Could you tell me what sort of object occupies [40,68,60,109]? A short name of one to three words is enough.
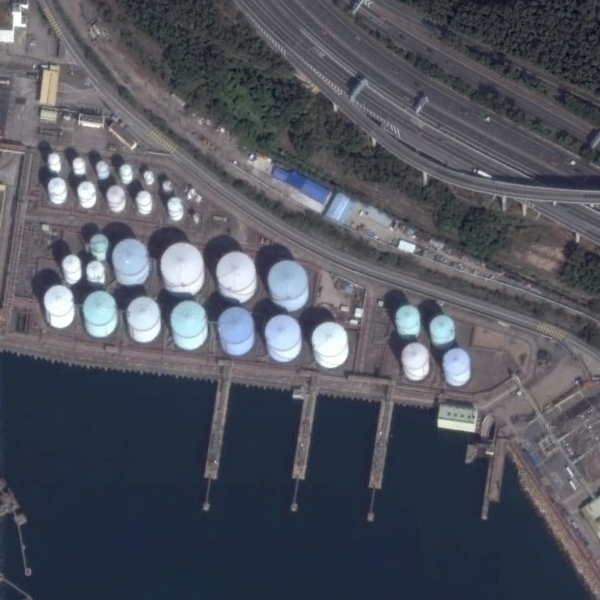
building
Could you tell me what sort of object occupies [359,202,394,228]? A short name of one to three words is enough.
shed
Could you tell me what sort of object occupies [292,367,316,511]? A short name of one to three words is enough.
pier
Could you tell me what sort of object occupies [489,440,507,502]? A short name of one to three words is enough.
pier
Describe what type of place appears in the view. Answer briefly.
industrial area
